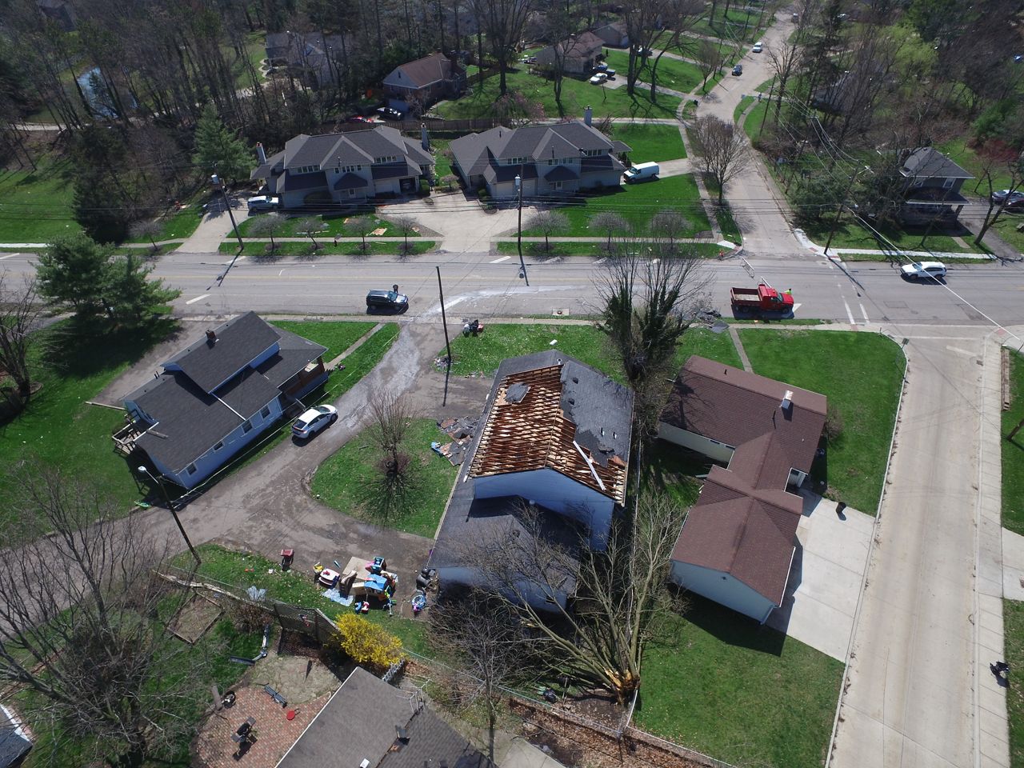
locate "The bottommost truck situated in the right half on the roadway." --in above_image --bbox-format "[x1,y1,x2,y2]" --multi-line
[727,287,797,318]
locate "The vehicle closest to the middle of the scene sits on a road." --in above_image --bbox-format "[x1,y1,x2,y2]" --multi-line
[364,286,412,310]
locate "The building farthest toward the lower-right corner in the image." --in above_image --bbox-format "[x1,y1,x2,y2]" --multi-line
[659,356,827,622]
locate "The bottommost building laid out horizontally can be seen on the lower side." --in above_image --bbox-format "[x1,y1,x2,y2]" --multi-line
[273,668,495,768]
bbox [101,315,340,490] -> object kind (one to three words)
house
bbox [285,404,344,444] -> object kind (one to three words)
car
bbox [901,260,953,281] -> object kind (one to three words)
car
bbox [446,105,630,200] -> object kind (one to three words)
house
